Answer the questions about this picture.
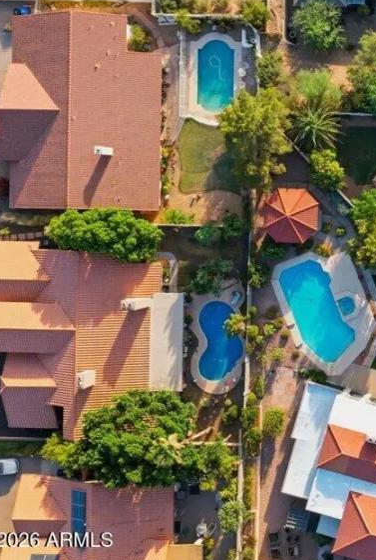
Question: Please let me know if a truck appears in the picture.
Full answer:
No, the photo shows no truck.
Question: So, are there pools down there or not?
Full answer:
Yes, there's a pool down there.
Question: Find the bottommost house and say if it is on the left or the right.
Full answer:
The bottommost house appears in the left half of the scene.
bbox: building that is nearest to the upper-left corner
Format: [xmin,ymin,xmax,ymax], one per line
[0,11,164,210]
